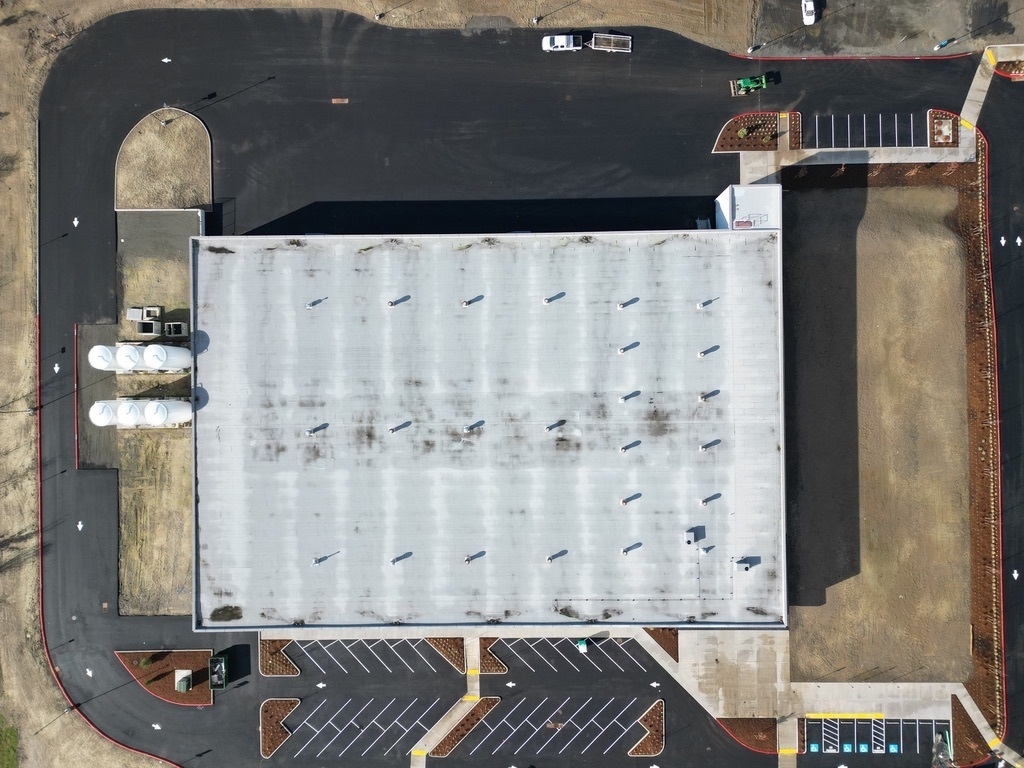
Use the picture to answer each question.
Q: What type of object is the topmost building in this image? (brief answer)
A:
warehouse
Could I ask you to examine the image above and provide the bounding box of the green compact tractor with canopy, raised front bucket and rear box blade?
[729,76,767,98]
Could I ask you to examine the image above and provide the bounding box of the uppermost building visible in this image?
[191,184,787,632]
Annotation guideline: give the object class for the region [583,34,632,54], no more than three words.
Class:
trailer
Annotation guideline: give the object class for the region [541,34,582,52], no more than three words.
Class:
vehicle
